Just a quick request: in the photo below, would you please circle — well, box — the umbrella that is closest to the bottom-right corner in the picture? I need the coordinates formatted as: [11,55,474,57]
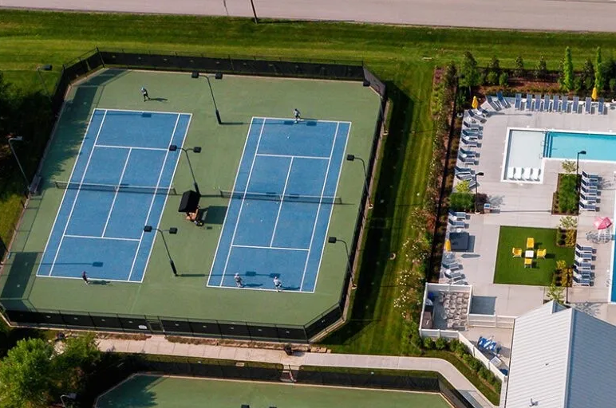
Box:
[593,215,616,241]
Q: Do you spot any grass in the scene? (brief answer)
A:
Yes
